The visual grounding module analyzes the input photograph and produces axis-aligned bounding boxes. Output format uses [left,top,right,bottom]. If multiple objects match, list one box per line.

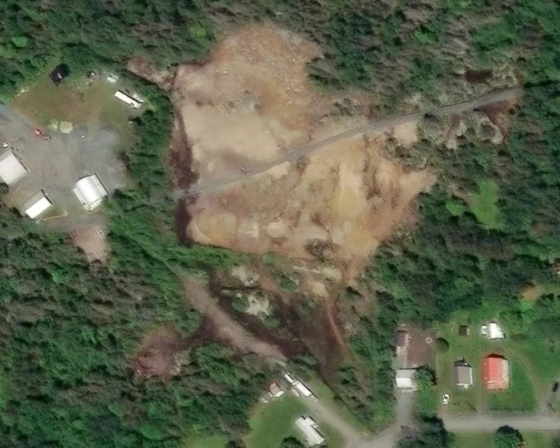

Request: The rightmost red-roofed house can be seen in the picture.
[483,358,507,386]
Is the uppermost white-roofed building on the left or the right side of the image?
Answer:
left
